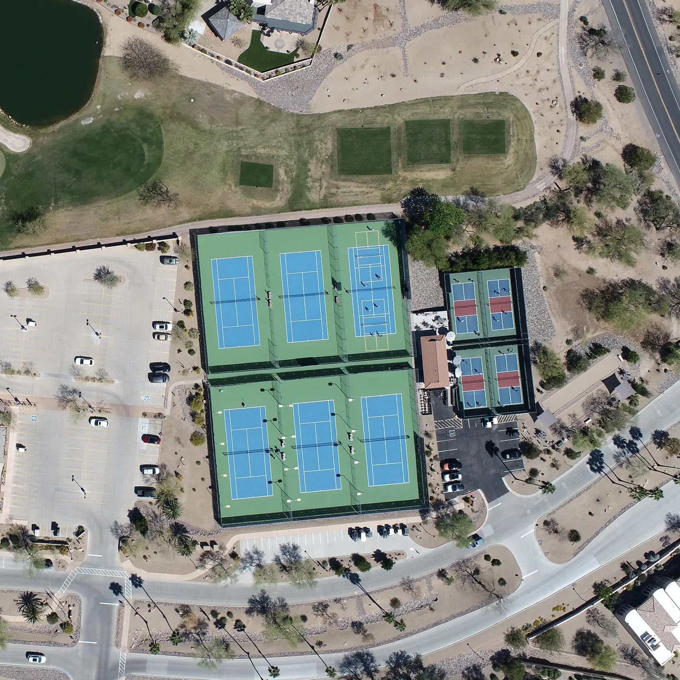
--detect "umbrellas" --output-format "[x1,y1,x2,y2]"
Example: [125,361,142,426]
[445,330,456,342]
[452,369,464,379]
[452,356,463,367]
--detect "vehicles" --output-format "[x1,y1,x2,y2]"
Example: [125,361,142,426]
[142,434,160,444]
[27,654,47,663]
[135,488,156,499]
[35,527,41,537]
[440,460,459,470]
[365,528,372,538]
[75,357,94,366]
[387,526,394,537]
[395,526,402,537]
[18,446,27,452]
[149,375,168,383]
[379,528,387,538]
[161,255,180,265]
[29,321,37,327]
[350,531,358,542]
[489,416,497,425]
[401,526,409,536]
[154,333,172,341]
[141,466,159,476]
[501,428,520,438]
[444,482,463,490]
[91,419,109,427]
[358,531,366,540]
[482,418,490,427]
[150,364,169,372]
[500,450,520,459]
[441,471,460,481]
[465,534,484,549]
[154,322,173,330]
